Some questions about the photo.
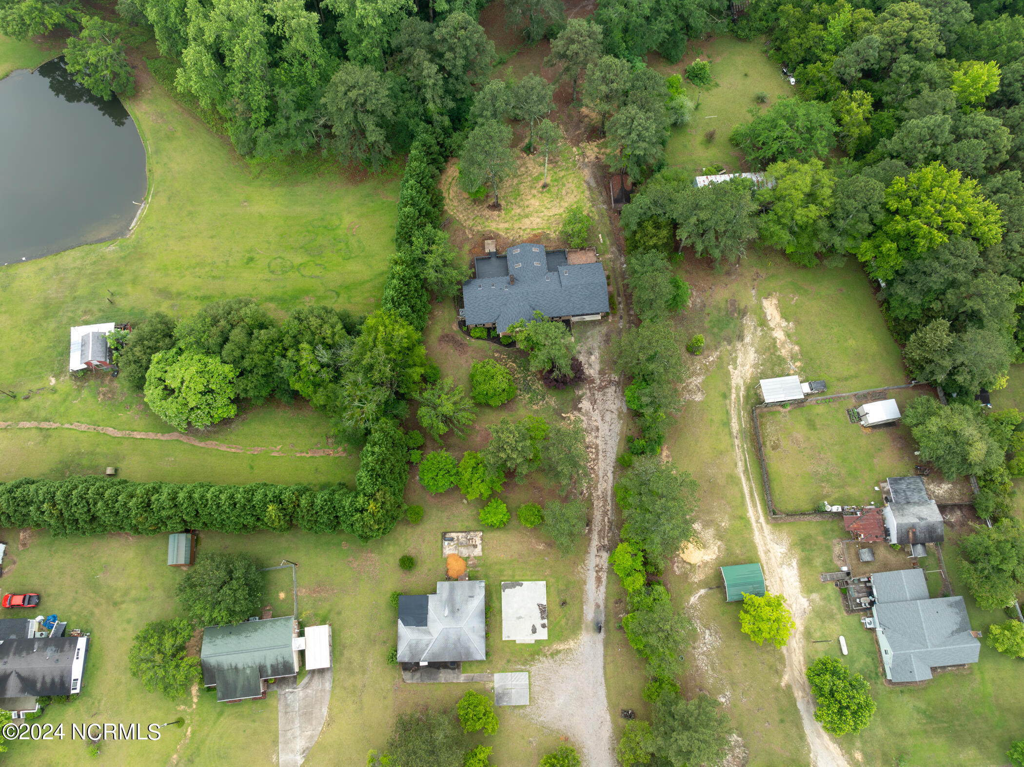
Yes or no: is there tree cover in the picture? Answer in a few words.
Yes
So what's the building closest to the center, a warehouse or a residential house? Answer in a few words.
residential house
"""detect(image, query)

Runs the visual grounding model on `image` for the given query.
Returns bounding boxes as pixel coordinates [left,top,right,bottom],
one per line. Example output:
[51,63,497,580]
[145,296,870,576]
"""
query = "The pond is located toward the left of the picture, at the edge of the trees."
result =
[0,61,145,265]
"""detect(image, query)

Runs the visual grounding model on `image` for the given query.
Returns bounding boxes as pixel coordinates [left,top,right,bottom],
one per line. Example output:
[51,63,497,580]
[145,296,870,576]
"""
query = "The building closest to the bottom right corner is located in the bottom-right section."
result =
[869,568,986,682]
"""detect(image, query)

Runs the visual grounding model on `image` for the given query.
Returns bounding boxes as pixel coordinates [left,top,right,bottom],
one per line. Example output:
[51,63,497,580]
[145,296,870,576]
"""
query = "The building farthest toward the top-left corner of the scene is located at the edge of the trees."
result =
[70,323,119,373]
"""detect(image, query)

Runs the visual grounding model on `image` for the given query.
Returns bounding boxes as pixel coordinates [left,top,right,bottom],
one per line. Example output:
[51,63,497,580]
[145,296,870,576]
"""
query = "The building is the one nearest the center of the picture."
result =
[463,243,609,339]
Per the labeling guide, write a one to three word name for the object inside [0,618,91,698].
house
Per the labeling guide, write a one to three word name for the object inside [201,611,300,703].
building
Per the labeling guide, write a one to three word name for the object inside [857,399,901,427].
shed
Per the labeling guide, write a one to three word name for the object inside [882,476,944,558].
house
